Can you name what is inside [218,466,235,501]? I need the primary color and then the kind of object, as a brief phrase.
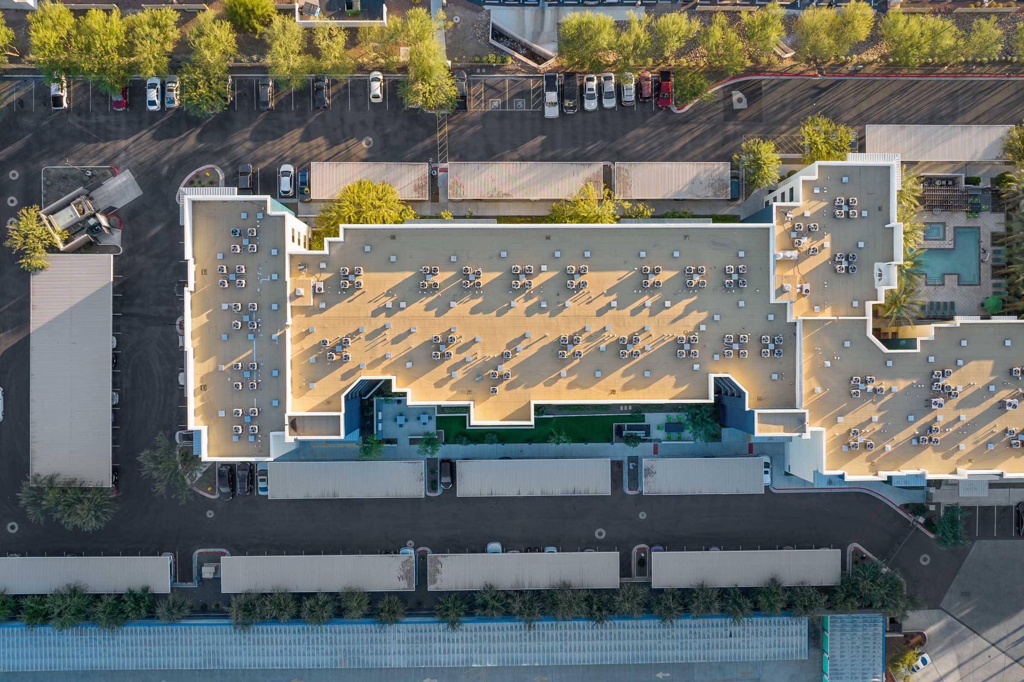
black car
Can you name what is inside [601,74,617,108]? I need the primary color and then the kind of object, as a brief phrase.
gray car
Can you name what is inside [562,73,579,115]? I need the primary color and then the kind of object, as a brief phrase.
black vehicle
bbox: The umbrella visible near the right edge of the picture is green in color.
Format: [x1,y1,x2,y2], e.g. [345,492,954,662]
[982,296,1001,313]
